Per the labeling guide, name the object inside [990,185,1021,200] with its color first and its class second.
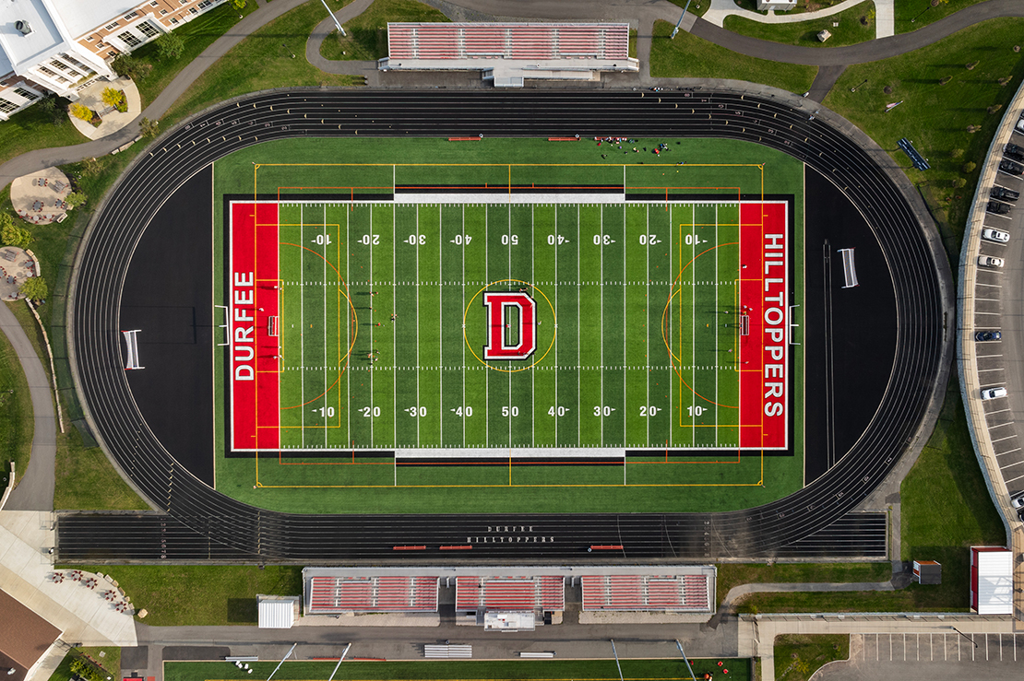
black vehicle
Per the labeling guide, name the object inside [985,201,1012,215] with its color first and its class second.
black car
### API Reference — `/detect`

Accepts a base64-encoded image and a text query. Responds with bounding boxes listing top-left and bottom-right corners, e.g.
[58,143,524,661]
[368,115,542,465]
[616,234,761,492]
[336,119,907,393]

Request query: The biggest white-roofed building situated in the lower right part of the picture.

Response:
[972,540,1012,614]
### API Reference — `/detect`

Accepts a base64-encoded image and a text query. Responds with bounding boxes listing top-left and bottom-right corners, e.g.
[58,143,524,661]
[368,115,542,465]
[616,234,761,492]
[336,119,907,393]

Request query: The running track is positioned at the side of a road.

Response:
[58,91,944,560]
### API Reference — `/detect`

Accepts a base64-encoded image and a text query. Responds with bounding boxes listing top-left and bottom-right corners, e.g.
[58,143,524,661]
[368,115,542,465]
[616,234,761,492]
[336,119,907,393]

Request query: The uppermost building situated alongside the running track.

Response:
[0,0,222,118]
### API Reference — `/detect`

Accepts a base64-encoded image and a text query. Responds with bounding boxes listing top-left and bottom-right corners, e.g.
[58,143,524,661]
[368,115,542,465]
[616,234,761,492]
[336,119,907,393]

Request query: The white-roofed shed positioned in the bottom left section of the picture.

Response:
[259,599,294,628]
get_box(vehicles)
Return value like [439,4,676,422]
[1010,496,1024,510]
[1002,142,1024,159]
[990,185,1021,200]
[1016,119,1024,131]
[976,330,1001,342]
[998,158,1024,174]
[983,229,1010,242]
[978,255,1004,267]
[981,387,1007,400]
[985,201,1012,215]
